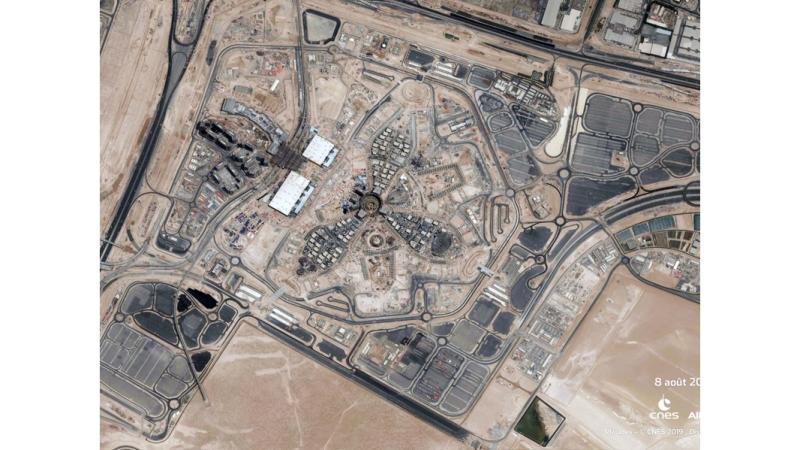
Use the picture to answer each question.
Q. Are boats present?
No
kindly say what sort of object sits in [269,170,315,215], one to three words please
building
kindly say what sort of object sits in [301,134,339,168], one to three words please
building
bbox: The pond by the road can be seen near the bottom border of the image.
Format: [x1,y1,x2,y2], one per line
[511,394,568,450]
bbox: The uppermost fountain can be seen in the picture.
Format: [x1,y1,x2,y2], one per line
[368,233,385,249]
